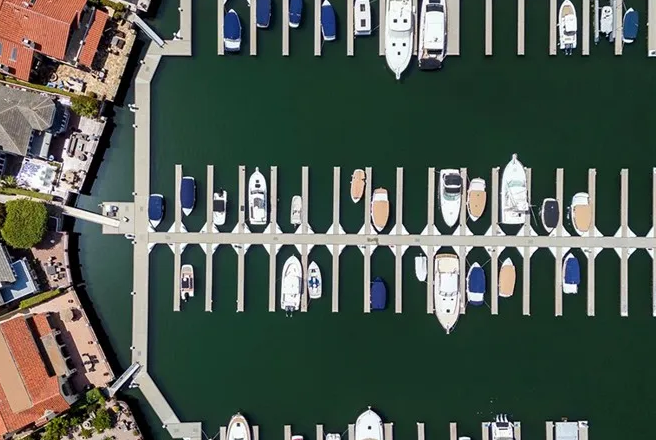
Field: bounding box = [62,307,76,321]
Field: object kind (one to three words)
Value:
umbrella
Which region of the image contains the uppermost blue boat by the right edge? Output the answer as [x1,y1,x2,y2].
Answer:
[620,0,639,46]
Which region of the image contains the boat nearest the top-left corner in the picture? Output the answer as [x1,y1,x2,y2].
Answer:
[224,3,249,52]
